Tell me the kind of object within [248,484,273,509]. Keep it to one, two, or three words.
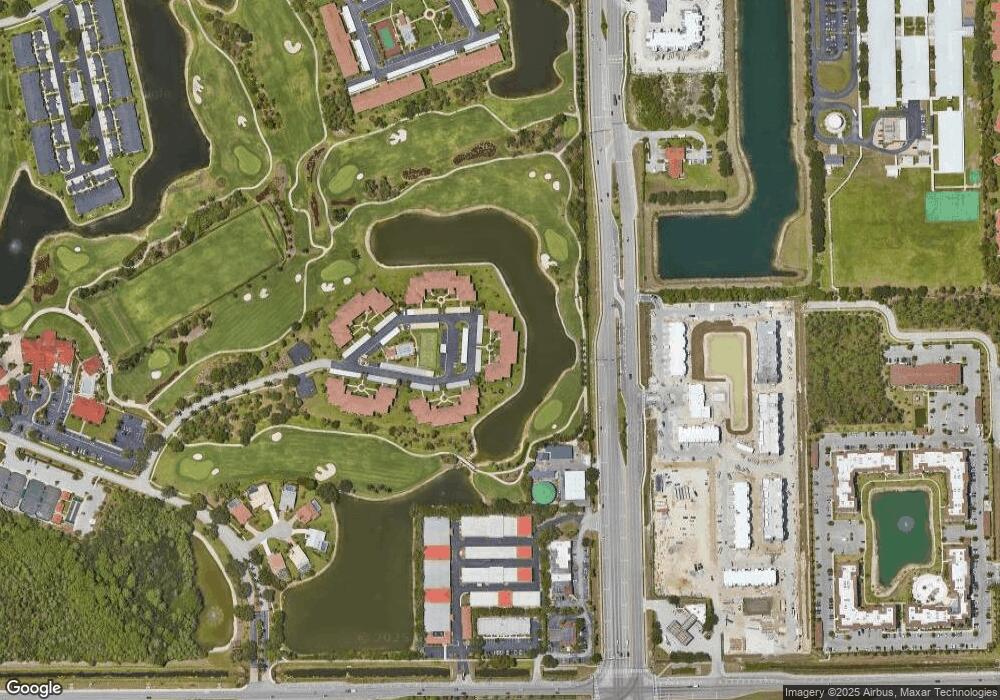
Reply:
house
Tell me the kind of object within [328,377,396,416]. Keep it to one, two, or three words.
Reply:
building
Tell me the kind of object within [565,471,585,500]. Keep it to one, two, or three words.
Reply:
building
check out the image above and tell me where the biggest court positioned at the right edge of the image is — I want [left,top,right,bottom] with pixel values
[925,191,979,222]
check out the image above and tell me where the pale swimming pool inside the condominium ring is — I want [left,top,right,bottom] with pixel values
[394,342,415,359]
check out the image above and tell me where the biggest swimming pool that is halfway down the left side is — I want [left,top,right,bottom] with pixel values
[78,373,99,398]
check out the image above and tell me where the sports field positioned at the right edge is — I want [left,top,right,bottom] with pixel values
[830,174,981,287]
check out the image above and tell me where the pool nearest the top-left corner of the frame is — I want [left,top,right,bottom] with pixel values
[69,72,84,103]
